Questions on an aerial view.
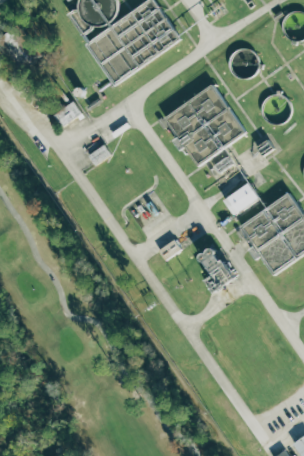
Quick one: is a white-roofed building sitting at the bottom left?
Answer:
No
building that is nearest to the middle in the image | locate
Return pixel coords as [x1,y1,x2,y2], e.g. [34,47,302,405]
[162,238,187,261]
